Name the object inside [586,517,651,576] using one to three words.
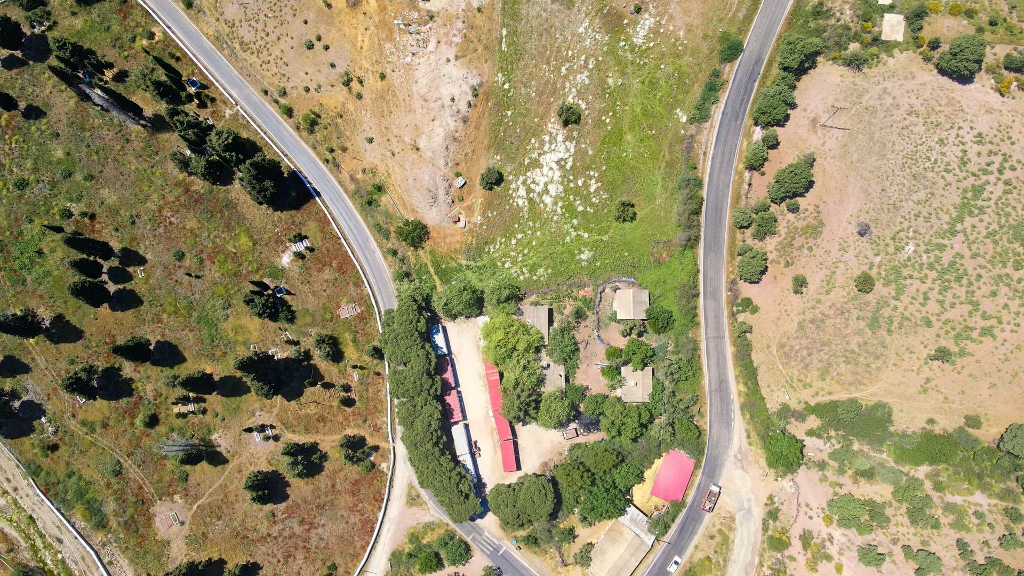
barn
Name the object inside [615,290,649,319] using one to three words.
house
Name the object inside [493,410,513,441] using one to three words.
shed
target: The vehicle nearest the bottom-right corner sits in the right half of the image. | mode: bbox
[701,482,721,515]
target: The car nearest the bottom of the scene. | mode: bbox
[668,554,680,574]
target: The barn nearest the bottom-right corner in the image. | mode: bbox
[651,449,695,501]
